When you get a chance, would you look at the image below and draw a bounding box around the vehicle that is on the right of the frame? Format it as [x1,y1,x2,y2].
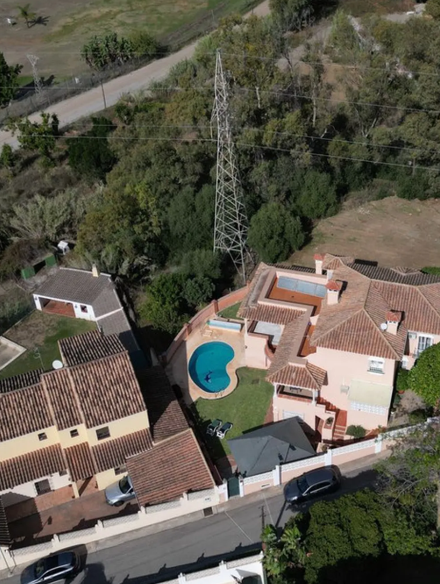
[282,461,345,503]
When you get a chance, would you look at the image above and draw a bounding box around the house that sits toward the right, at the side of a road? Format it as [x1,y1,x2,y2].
[236,251,440,429]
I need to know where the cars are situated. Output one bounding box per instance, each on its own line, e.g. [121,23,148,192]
[282,461,345,503]
[17,542,85,584]
[99,473,137,507]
